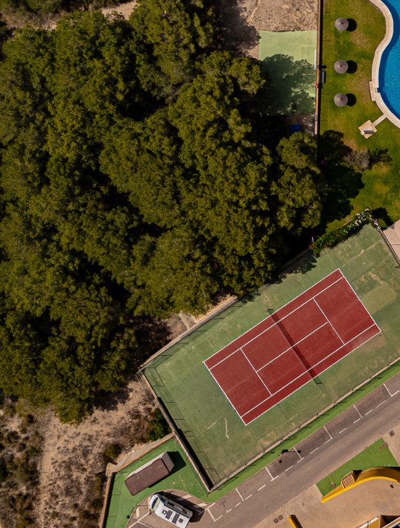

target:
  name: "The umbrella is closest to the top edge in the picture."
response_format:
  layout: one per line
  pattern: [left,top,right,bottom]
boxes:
[334,17,348,31]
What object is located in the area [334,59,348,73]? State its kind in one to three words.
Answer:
umbrella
